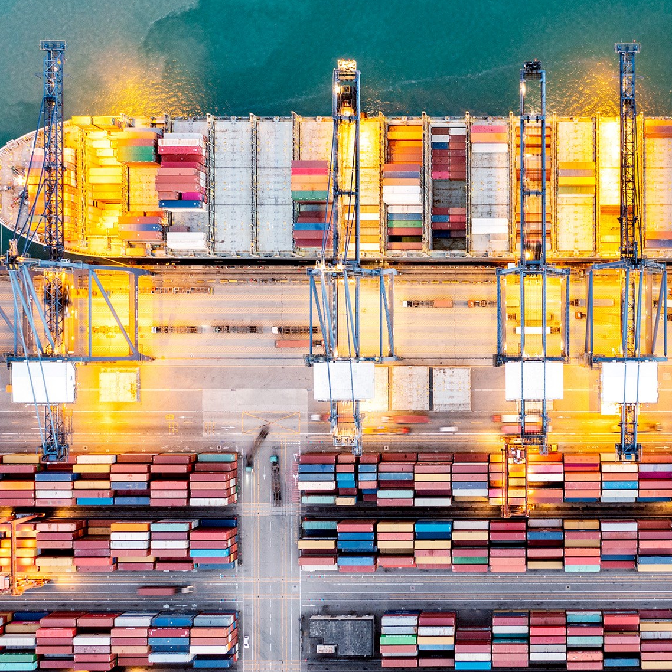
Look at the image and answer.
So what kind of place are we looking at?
port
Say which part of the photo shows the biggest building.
bottom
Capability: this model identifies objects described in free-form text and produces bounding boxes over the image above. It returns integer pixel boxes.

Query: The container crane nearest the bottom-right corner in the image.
[497,431,534,518]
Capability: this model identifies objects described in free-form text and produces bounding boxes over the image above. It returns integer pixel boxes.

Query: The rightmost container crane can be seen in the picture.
[572,38,670,459]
